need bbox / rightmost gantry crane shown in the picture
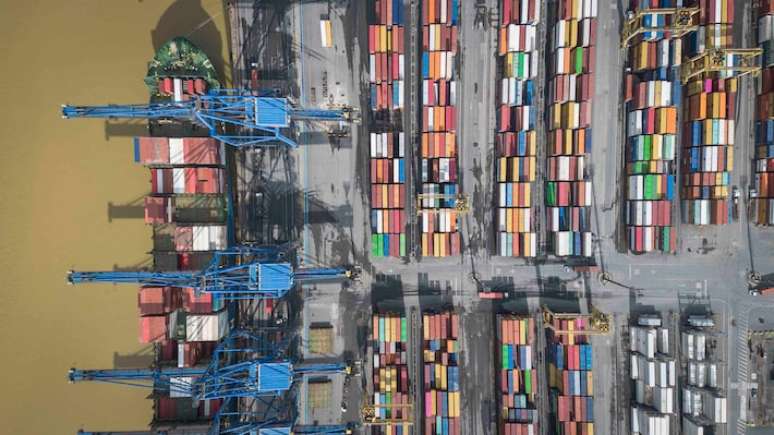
[681,47,763,82]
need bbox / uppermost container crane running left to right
[621,9,700,47]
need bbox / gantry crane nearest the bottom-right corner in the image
[541,301,610,335]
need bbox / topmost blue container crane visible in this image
[57,86,354,149]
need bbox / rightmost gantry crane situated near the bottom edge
[361,384,414,424]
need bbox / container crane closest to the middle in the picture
[415,190,471,214]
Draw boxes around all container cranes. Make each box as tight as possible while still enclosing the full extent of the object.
[621,9,700,47]
[57,86,354,149]
[415,190,471,214]
[361,384,414,424]
[681,47,763,82]
[66,324,357,397]
[541,301,610,335]
[62,239,356,300]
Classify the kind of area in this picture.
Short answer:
port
